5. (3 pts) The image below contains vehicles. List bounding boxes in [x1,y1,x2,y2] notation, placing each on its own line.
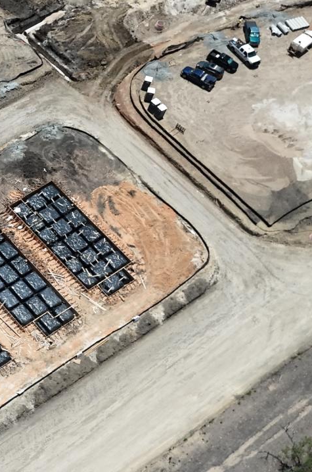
[193,62,226,81]
[179,68,218,90]
[205,47,241,73]
[242,21,262,46]
[231,35,262,64]
[279,28,312,59]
